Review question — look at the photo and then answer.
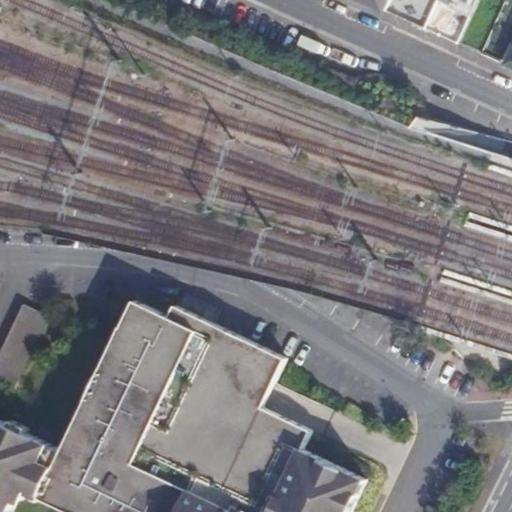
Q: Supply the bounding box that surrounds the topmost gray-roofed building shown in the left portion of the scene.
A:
[0,305,48,385]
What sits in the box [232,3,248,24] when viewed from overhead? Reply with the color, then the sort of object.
red car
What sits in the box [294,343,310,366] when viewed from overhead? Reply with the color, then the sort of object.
white car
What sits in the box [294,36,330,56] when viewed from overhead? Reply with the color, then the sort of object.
white truck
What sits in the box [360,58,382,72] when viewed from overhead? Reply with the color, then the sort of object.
white vehicle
